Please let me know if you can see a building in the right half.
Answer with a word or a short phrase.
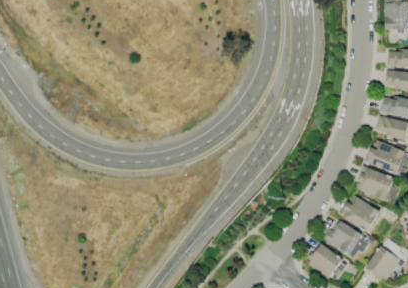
Yes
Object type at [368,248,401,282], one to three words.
house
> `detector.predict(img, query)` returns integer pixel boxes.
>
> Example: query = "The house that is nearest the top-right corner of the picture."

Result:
[386,0,408,31]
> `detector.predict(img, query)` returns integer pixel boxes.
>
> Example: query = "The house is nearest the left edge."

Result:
[309,245,343,278]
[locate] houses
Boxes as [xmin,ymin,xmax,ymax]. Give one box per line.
[386,0,408,31]
[376,116,408,142]
[388,50,408,70]
[386,71,408,92]
[368,248,401,282]
[356,167,396,202]
[366,142,406,175]
[326,221,364,258]
[342,196,380,234]
[382,97,408,118]
[309,245,343,278]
